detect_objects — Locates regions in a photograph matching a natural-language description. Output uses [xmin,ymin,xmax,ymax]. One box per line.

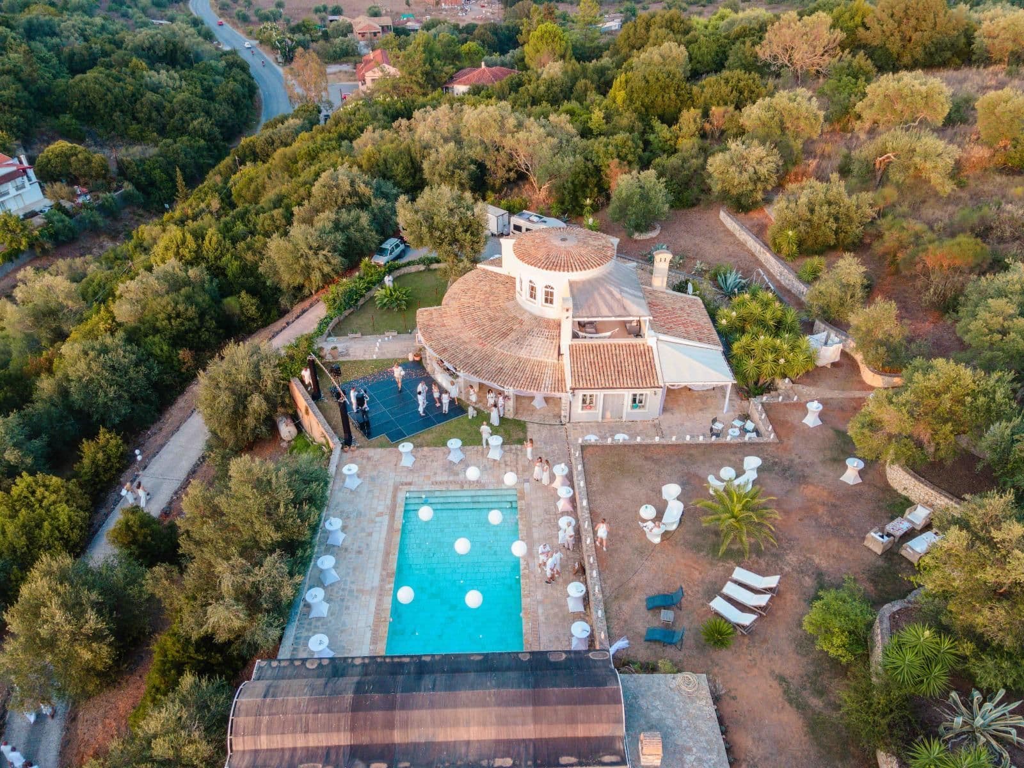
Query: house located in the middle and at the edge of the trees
[412,228,725,426]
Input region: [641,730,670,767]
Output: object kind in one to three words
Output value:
chimney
